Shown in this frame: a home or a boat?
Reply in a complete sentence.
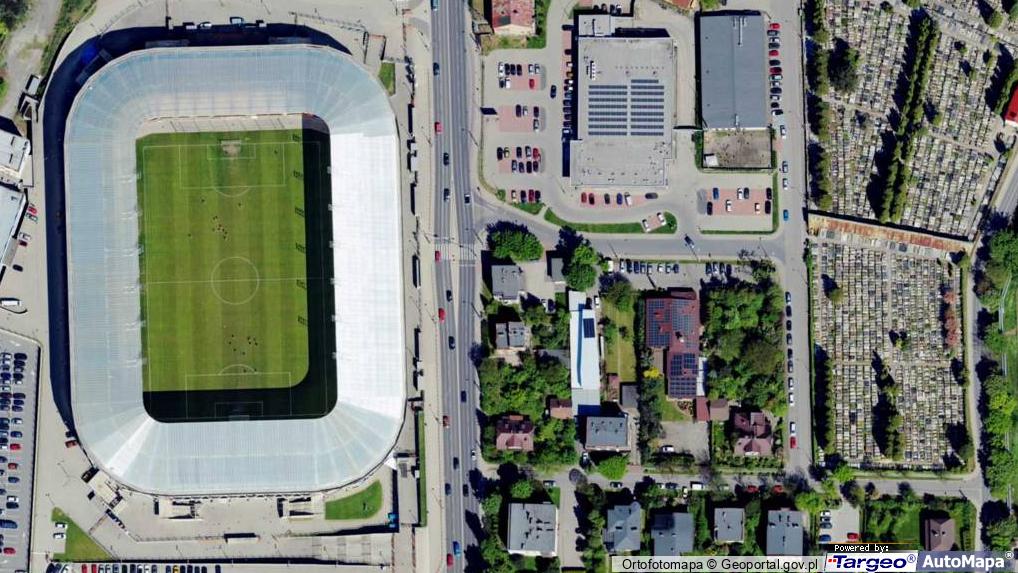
It is a home that can be seen here.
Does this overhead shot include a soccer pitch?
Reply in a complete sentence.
Yes, the picture does show a soccer pitch.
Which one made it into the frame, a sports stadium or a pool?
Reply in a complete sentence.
Visible in the photo is a sports stadium.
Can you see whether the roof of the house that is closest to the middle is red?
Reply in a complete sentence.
No, the color of the roof of the house that is closest to the middle is gray.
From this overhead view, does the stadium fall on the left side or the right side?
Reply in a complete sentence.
It is on the left.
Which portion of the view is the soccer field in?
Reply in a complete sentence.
The soccer field is located in the left region of the scene.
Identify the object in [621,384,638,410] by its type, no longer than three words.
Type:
shed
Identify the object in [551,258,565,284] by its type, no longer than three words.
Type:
building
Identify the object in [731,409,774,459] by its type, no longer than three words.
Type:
house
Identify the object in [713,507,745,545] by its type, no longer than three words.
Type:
house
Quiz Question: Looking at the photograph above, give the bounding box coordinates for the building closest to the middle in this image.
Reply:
[492,265,522,306]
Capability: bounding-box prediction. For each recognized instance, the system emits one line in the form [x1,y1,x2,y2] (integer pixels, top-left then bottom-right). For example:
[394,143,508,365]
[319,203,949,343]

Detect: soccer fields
[135,129,336,421]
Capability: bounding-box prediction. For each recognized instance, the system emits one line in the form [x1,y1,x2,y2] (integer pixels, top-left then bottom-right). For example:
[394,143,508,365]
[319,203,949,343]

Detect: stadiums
[64,42,407,500]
